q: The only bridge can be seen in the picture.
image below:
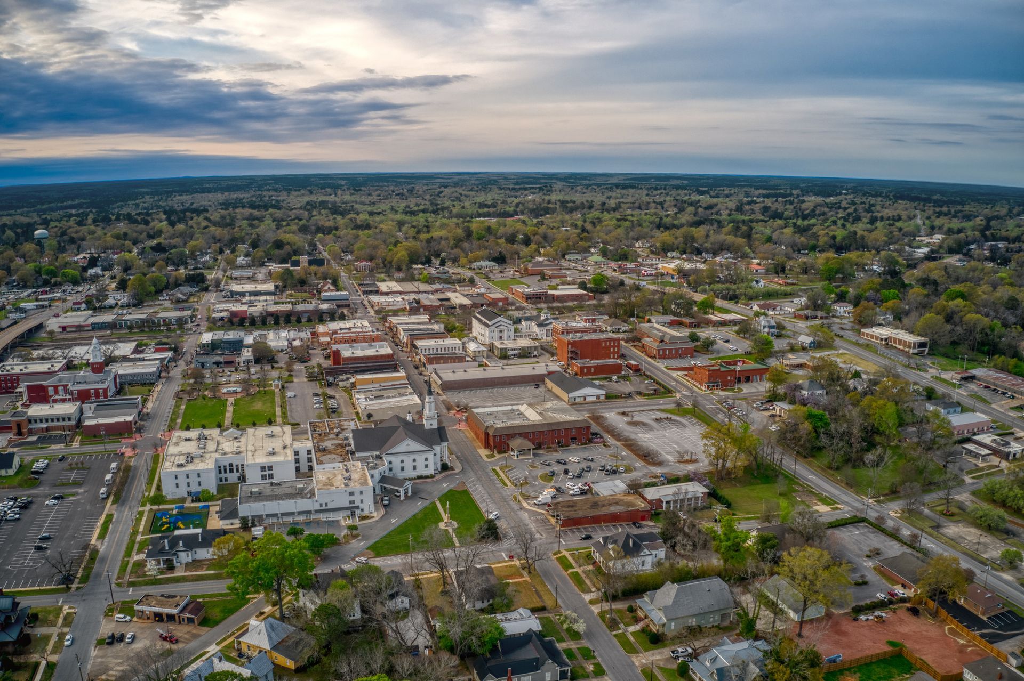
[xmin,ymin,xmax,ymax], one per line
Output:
[0,304,56,355]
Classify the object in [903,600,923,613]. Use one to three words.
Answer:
vehicle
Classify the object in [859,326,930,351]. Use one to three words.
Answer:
building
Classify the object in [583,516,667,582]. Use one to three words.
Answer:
house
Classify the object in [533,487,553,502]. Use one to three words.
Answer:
vehicle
